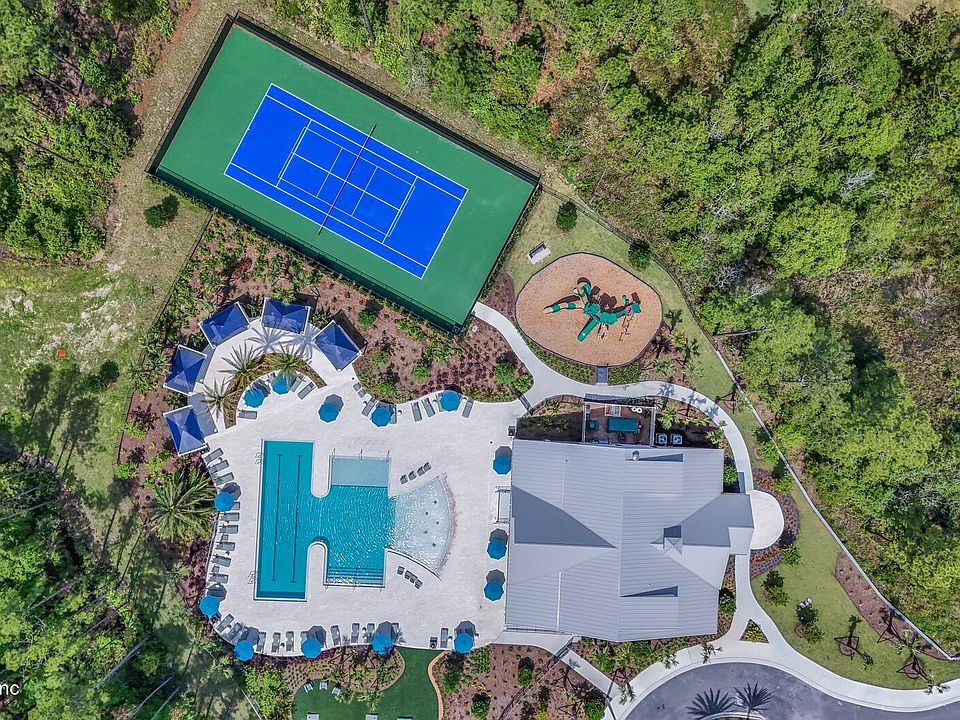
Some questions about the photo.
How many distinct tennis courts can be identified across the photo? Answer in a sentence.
The picture shows just 1 tennis court.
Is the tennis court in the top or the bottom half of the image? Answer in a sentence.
Seen from above, the tennis court lies in the top half of the view.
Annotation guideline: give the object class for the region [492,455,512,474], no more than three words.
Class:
umbrella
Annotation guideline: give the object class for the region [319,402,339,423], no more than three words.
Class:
umbrella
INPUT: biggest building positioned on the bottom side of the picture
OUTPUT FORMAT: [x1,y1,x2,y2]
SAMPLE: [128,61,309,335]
[503,439,754,640]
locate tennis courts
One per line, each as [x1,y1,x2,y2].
[157,25,535,334]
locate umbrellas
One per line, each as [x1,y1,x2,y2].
[372,634,393,654]
[234,640,255,661]
[484,580,503,600]
[454,632,474,652]
[319,402,339,423]
[301,638,322,658]
[492,455,512,474]
[371,406,392,427]
[440,390,459,410]
[487,538,507,559]
[201,595,220,615]
[273,373,292,393]
[214,490,235,511]
[245,386,266,407]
